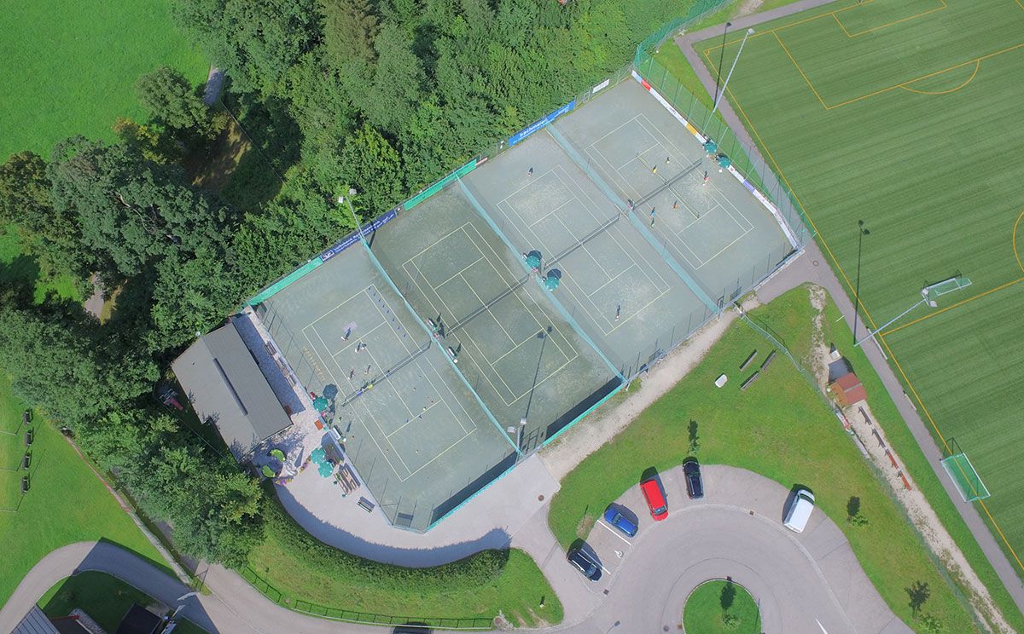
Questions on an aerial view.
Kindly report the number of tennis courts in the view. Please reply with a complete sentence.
Altogether the scene contains 4 tennis courts.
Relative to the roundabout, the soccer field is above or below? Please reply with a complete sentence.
The soccer field is found above the roundabout in the photo.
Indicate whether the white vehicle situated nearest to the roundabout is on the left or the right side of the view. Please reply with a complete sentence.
It is on the right.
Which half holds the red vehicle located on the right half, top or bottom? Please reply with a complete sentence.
The bottom half of the photo is where the red vehicle located on the right half is.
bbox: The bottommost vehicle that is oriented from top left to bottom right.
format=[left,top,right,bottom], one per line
[566,543,606,582]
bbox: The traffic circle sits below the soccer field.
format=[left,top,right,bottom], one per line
[682,580,763,634]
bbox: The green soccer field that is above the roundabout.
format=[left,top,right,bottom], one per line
[685,0,1024,584]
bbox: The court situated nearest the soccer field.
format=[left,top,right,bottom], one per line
[553,75,798,308]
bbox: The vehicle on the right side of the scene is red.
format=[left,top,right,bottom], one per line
[637,477,670,524]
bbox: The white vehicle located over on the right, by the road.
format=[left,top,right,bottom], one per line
[781,490,816,537]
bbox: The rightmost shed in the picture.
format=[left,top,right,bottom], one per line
[824,373,867,408]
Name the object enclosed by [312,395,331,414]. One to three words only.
umbrella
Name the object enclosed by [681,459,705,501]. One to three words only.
car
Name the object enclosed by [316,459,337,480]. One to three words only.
umbrella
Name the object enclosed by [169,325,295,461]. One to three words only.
building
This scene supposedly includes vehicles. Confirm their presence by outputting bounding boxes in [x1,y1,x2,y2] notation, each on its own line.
[781,490,816,537]
[602,505,639,538]
[681,459,705,501]
[566,543,606,582]
[637,477,670,524]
